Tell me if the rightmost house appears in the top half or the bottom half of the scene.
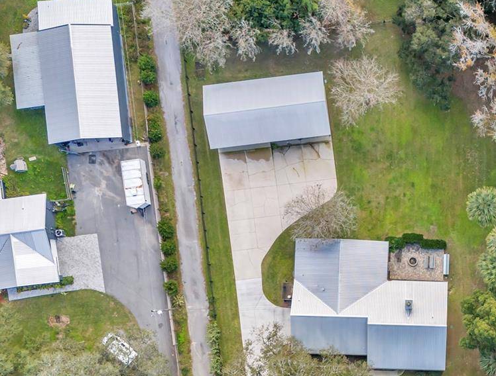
bottom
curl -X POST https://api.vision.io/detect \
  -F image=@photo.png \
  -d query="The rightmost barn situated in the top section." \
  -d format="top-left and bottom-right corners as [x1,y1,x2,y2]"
[203,71,332,151]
